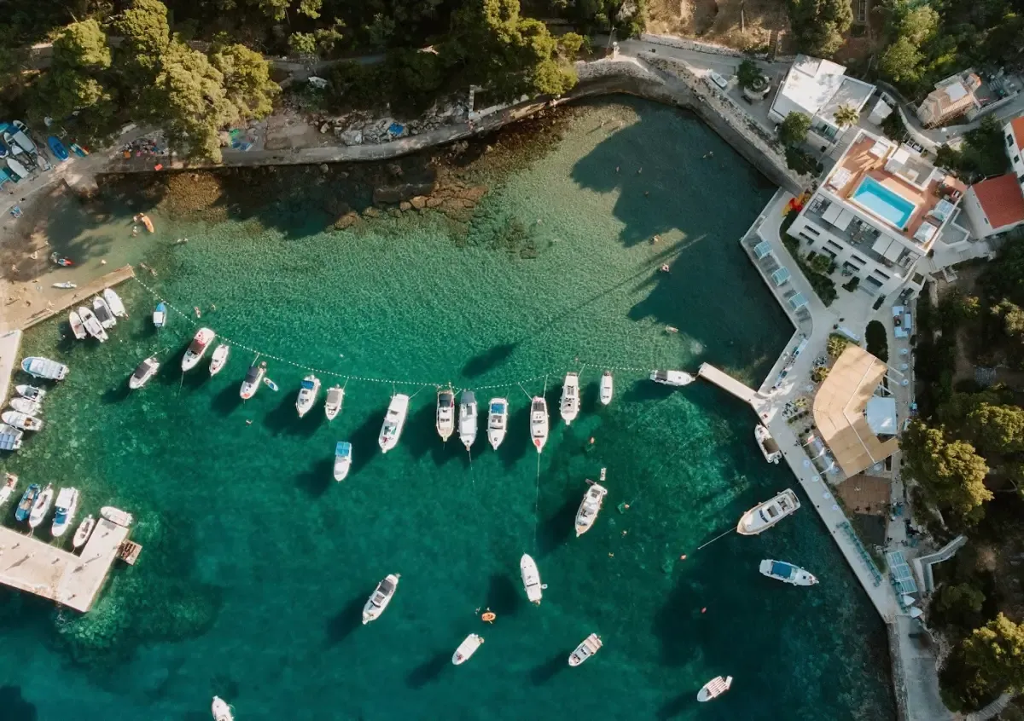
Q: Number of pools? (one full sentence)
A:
Altogether the scene contains 1 pool.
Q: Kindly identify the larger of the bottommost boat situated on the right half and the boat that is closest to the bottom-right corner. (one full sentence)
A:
The boat that is closest to the bottom-right corner covers a greater area than the bottommost boat situated on the right half.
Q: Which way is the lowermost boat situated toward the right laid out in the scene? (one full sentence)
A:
In this picture, the lowermost boat situated toward the right is oriented on a diagonal.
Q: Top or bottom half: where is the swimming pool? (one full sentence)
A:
Seen from above, the swimming pool lies in the top half of the view.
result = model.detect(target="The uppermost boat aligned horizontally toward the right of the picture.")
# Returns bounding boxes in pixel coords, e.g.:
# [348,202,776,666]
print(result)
[641,369,699,386]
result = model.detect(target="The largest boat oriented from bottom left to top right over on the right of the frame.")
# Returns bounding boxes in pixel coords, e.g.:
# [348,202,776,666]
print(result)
[698,484,802,550]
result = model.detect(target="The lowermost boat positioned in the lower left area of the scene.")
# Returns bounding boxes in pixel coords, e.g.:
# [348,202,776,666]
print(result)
[211,697,233,721]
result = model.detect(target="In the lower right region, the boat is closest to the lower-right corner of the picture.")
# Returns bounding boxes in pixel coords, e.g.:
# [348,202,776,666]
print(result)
[758,558,821,587]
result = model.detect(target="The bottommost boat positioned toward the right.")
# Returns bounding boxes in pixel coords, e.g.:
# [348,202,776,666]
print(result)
[698,674,726,701]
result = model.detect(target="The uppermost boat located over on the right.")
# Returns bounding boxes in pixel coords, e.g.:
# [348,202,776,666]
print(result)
[711,69,730,91]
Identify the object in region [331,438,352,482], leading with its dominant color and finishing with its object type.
white boat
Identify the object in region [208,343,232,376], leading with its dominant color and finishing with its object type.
white boat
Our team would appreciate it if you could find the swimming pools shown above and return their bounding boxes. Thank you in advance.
[848,172,919,231]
